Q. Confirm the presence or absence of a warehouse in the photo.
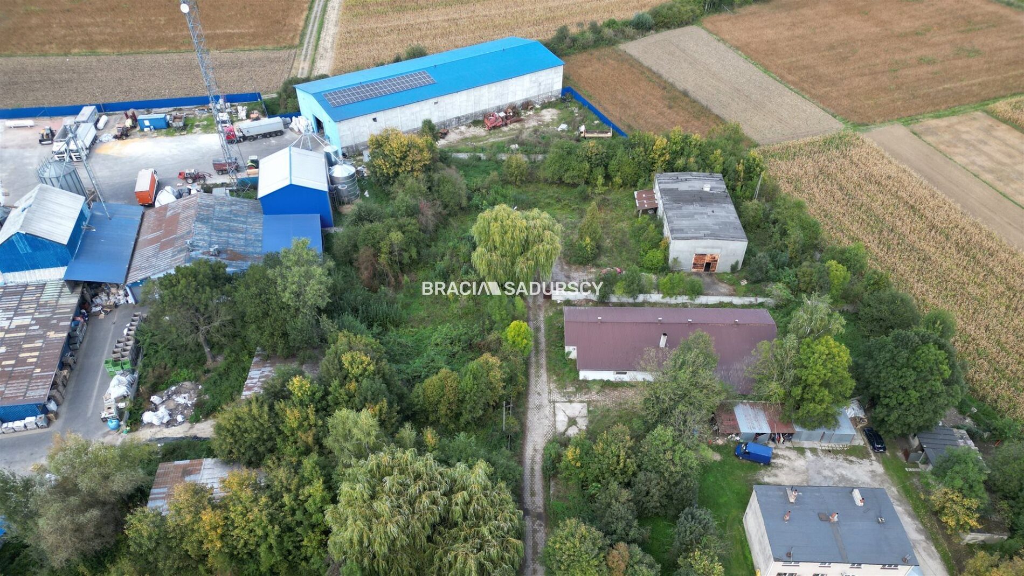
Yes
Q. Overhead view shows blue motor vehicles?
Yes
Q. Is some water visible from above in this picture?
No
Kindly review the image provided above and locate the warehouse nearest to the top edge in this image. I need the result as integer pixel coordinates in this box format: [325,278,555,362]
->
[288,40,567,154]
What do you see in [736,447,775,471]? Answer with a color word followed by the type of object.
blue vehicle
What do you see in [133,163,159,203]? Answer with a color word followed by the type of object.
white truck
